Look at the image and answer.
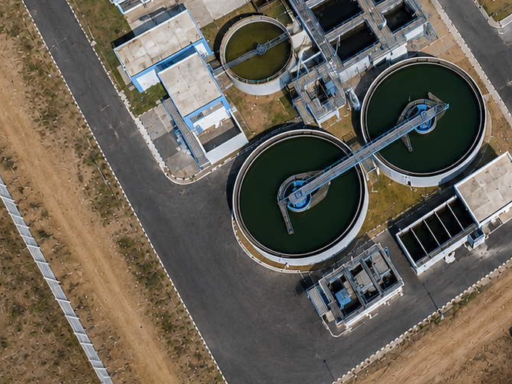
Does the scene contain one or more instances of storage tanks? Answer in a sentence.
Yes, a storage tank is visible in the scene.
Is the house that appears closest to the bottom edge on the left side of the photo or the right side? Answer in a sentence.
You can find the house that appears closest to the bottom edge on the right side of the picture.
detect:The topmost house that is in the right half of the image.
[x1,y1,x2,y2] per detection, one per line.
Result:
[285,57,352,128]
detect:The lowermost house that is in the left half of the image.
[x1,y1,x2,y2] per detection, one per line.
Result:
[158,50,233,129]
